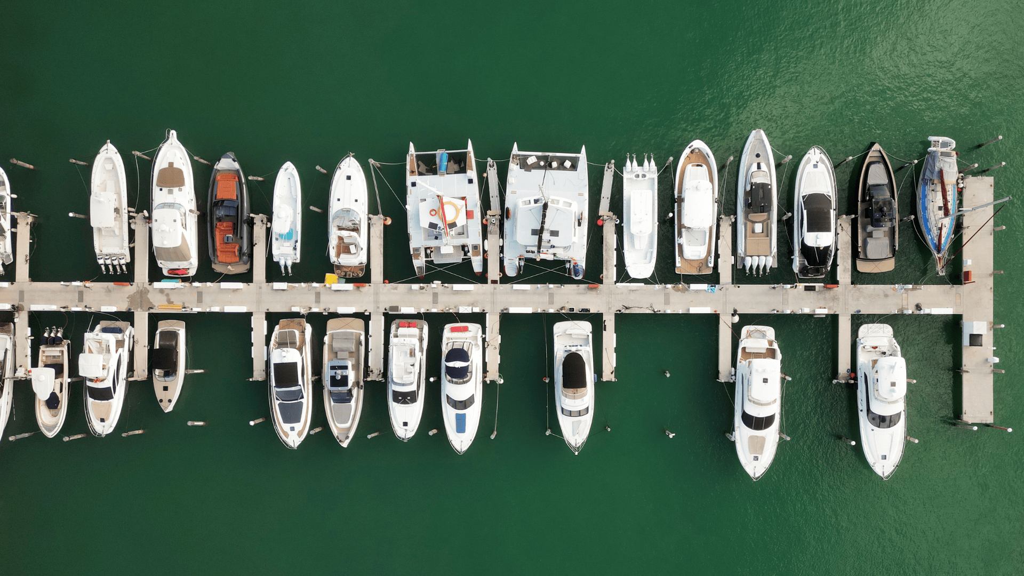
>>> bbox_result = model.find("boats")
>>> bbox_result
[326,152,369,278]
[504,142,588,280]
[854,142,897,273]
[210,151,253,274]
[920,151,1012,275]
[555,321,597,453]
[928,135,960,152]
[854,323,906,480]
[791,145,836,278]
[266,160,302,277]
[735,325,781,482]
[0,168,17,266]
[737,127,778,277]
[270,319,316,450]
[79,315,139,437]
[799,270,828,279]
[406,139,483,279]
[674,139,717,274]
[0,322,17,438]
[388,319,429,442]
[152,130,201,277]
[324,318,367,448]
[152,320,189,413]
[432,245,464,263]
[92,139,131,275]
[623,152,658,278]
[31,325,73,438]
[441,323,483,456]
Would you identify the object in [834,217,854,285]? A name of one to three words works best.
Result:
pier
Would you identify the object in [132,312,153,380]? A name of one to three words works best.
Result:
pier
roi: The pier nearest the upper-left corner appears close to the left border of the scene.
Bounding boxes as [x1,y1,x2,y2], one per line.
[14,215,35,283]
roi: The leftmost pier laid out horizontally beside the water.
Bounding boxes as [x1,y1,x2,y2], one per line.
[0,283,963,314]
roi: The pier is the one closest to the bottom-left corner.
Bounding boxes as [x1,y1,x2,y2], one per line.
[14,311,34,378]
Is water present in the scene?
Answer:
Yes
